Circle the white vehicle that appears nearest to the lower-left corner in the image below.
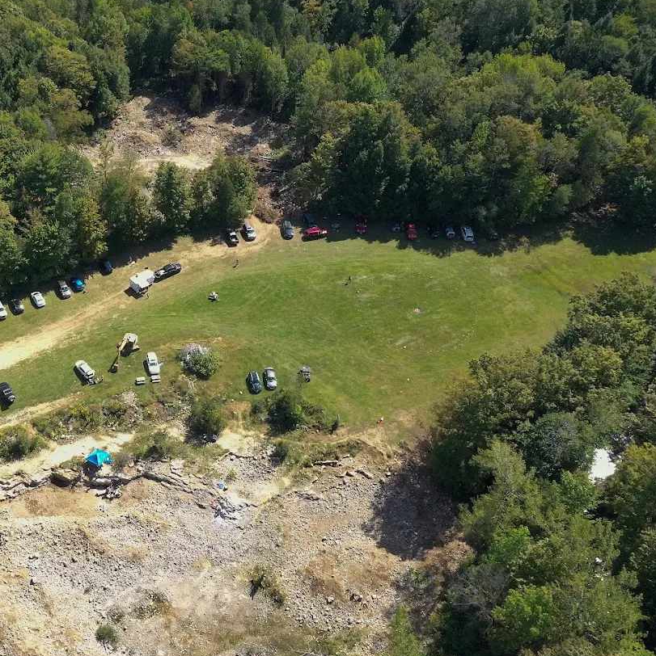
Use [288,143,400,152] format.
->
[74,360,96,382]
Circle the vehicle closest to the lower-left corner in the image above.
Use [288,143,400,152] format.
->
[0,382,14,405]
